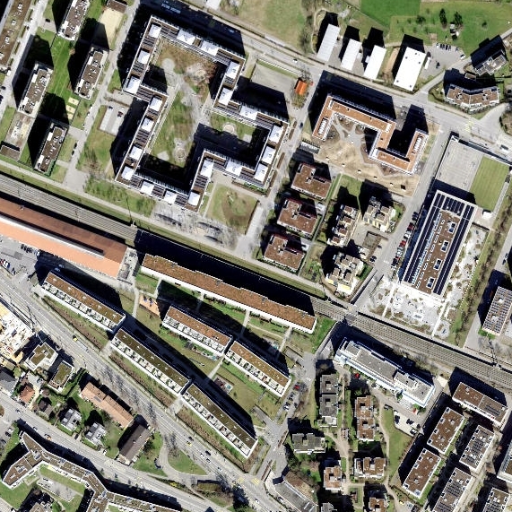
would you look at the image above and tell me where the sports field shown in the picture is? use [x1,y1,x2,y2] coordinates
[471,157,509,210]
